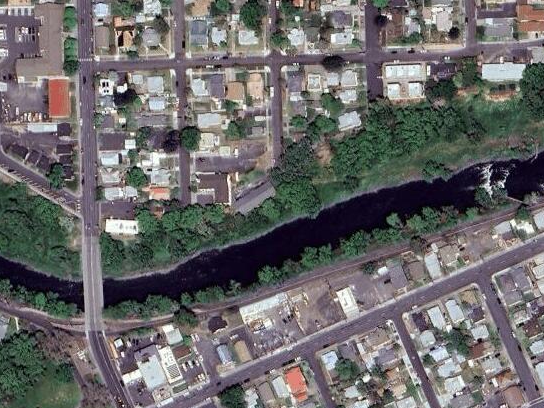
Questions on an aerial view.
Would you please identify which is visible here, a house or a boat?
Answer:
house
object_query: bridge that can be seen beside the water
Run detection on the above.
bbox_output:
[81,237,106,337]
